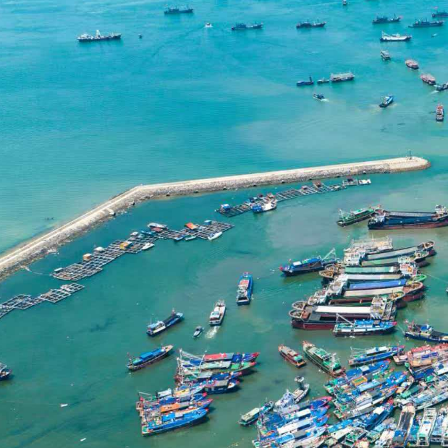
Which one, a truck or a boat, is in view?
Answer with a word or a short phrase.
boat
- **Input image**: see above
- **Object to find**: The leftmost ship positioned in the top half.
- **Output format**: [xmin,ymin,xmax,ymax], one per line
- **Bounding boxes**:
[76,25,123,40]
